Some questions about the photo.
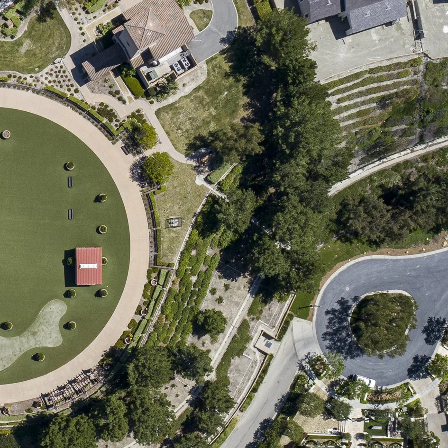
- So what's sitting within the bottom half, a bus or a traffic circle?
traffic circle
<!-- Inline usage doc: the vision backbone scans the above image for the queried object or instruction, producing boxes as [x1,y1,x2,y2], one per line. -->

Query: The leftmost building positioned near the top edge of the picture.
[82,0,194,82]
